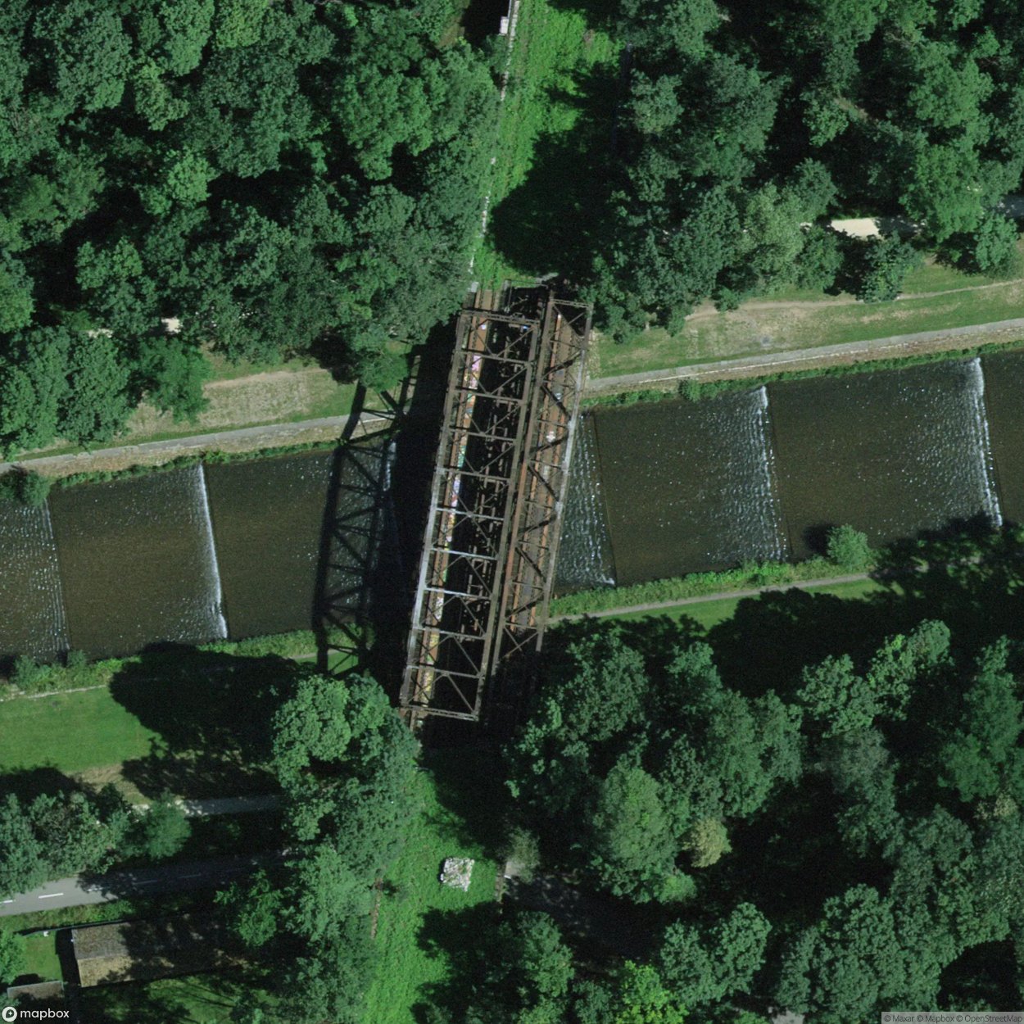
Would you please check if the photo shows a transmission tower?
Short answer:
No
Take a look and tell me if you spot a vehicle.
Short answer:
No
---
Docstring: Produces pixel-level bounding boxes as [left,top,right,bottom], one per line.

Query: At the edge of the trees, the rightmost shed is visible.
[72,911,251,990]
